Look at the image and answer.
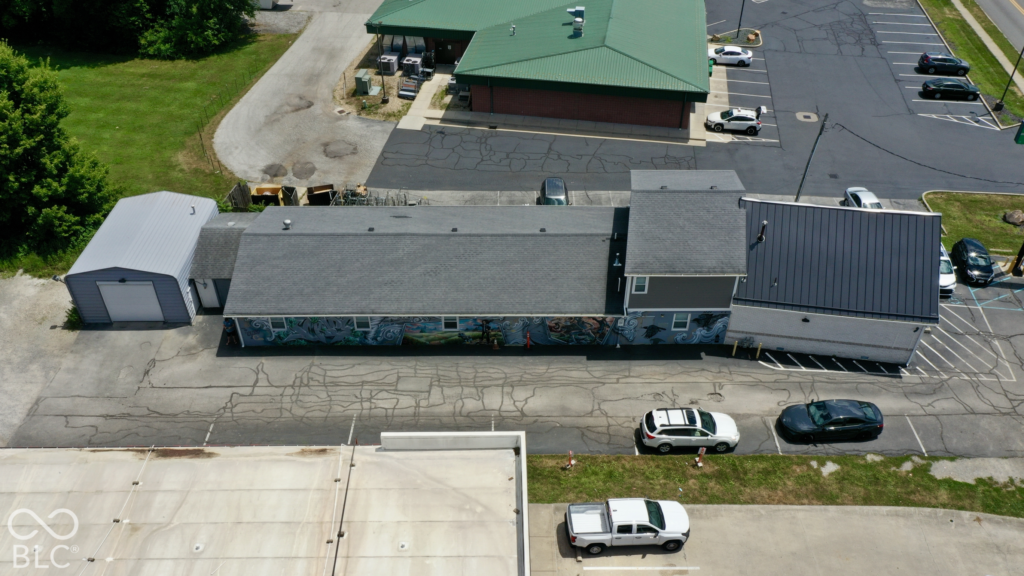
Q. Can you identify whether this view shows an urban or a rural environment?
urban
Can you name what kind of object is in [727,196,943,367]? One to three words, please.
building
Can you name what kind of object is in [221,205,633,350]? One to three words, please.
building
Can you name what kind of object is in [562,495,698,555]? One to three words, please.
truck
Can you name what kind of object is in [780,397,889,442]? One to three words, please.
car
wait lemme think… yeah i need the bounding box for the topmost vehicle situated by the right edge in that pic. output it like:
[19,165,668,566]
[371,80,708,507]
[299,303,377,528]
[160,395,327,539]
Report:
[918,50,975,75]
